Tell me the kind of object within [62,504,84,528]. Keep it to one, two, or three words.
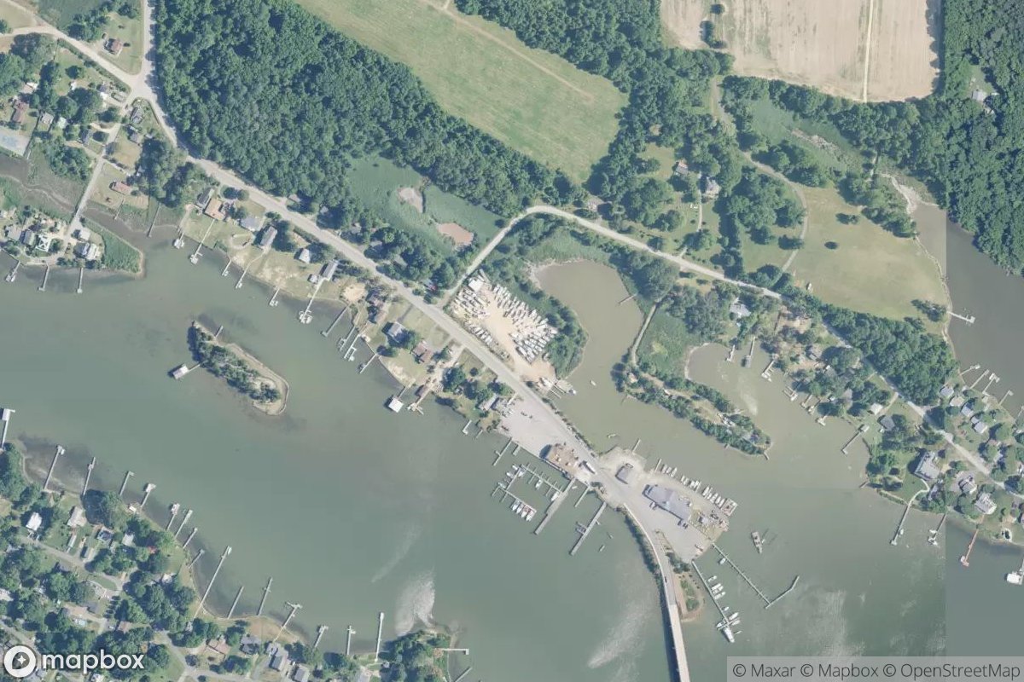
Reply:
house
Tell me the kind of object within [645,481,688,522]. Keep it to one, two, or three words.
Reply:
building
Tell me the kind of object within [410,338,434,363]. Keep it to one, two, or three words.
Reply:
house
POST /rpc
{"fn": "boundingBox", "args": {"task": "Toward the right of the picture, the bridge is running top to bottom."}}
[667,603,689,682]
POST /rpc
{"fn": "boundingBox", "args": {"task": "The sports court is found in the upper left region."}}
[0,130,29,156]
